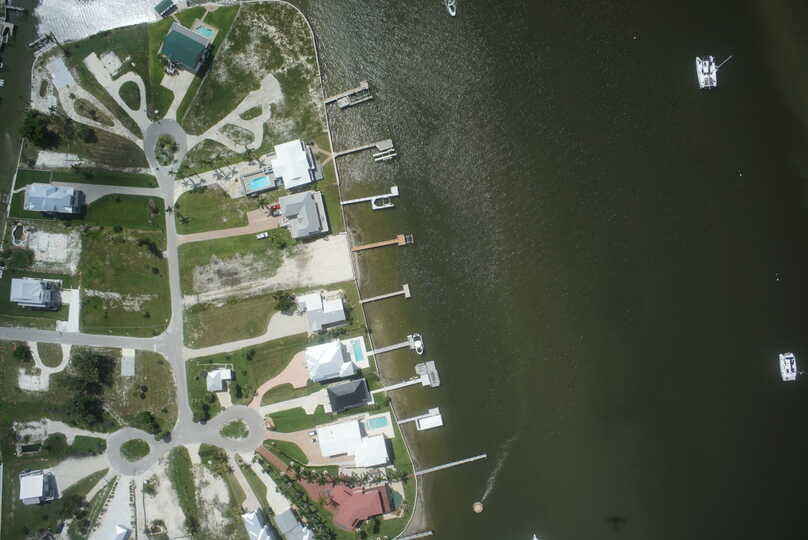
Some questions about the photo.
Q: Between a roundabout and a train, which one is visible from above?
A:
roundabout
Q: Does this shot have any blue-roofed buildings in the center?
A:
No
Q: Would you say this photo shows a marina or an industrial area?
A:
marina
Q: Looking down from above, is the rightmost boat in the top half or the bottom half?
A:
bottom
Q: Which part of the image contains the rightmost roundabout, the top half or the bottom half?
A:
bottom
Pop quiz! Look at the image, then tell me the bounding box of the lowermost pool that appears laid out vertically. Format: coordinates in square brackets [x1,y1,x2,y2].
[387,480,403,510]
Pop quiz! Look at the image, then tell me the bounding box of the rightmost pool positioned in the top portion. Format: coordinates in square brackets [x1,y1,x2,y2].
[241,167,276,194]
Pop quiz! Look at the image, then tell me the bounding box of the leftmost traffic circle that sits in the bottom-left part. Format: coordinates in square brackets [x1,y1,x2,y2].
[107,428,156,475]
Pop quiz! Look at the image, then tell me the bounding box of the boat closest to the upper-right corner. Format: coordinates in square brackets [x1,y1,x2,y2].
[698,55,728,89]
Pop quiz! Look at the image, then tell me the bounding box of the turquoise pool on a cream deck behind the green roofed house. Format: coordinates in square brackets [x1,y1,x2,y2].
[192,19,218,43]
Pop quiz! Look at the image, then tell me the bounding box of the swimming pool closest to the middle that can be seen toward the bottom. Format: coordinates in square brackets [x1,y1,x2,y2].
[345,336,369,367]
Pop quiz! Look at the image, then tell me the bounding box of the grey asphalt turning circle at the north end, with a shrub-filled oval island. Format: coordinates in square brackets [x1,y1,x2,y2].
[144,118,188,166]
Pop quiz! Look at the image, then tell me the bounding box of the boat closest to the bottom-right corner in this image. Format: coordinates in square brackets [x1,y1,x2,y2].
[780,353,808,383]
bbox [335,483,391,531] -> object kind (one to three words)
house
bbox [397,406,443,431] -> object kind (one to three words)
pier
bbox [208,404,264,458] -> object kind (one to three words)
roundabout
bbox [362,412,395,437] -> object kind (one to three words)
swimming pool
